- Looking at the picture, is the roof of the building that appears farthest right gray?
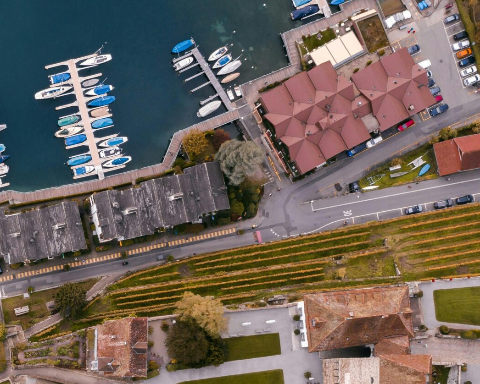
No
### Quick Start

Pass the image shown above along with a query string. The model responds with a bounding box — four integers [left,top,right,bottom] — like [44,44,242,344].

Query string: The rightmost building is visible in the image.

[425,134,480,177]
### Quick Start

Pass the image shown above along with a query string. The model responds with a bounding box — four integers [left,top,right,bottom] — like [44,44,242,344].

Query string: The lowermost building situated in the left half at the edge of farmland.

[91,318,148,377]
